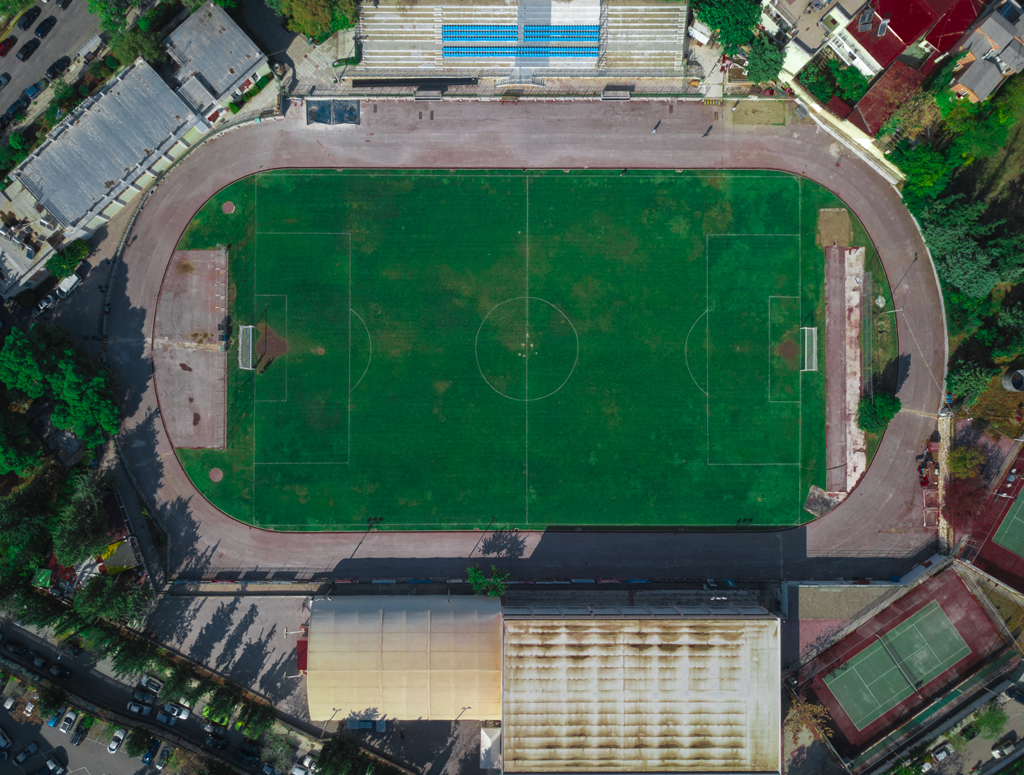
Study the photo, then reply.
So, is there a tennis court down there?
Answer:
Yes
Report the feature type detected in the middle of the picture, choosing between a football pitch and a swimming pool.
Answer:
football pitch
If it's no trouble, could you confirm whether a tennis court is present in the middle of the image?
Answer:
No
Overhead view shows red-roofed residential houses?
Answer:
Yes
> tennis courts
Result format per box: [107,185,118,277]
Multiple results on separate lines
[968,460,1024,593]
[796,571,1011,750]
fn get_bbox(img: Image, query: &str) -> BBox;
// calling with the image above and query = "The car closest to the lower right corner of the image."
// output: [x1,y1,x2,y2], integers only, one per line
[993,742,1017,761]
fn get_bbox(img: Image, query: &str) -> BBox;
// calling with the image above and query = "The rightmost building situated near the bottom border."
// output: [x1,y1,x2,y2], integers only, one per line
[503,600,781,773]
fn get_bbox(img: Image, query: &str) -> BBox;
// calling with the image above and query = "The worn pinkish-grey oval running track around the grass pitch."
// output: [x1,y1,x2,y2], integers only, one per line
[104,99,946,581]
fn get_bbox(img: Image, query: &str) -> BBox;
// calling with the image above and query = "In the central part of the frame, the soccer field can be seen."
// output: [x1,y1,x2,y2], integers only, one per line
[152,168,898,532]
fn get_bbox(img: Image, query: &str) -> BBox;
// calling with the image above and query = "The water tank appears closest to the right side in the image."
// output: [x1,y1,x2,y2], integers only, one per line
[988,370,1024,392]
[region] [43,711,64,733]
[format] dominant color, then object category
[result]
blue car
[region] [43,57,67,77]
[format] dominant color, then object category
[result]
black car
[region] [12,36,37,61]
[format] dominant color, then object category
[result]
black car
